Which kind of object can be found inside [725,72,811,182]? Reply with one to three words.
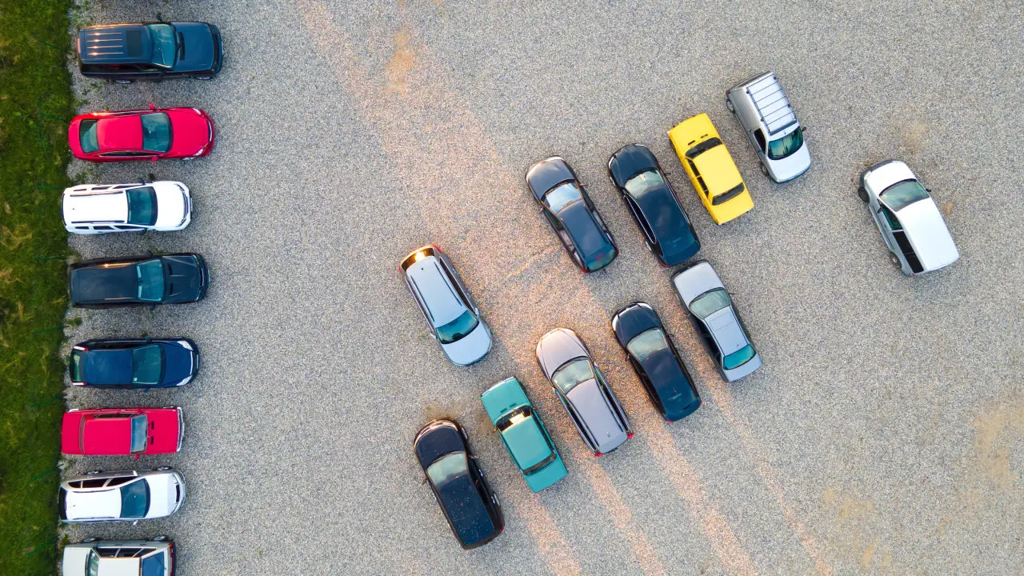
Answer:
van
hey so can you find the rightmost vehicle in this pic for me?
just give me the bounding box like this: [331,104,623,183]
[858,163,961,276]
